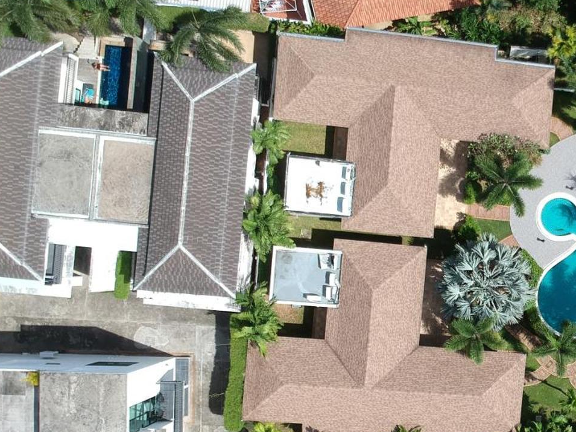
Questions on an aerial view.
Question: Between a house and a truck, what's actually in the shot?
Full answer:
The image shows a house.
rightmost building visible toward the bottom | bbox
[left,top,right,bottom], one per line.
[241,238,527,432]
